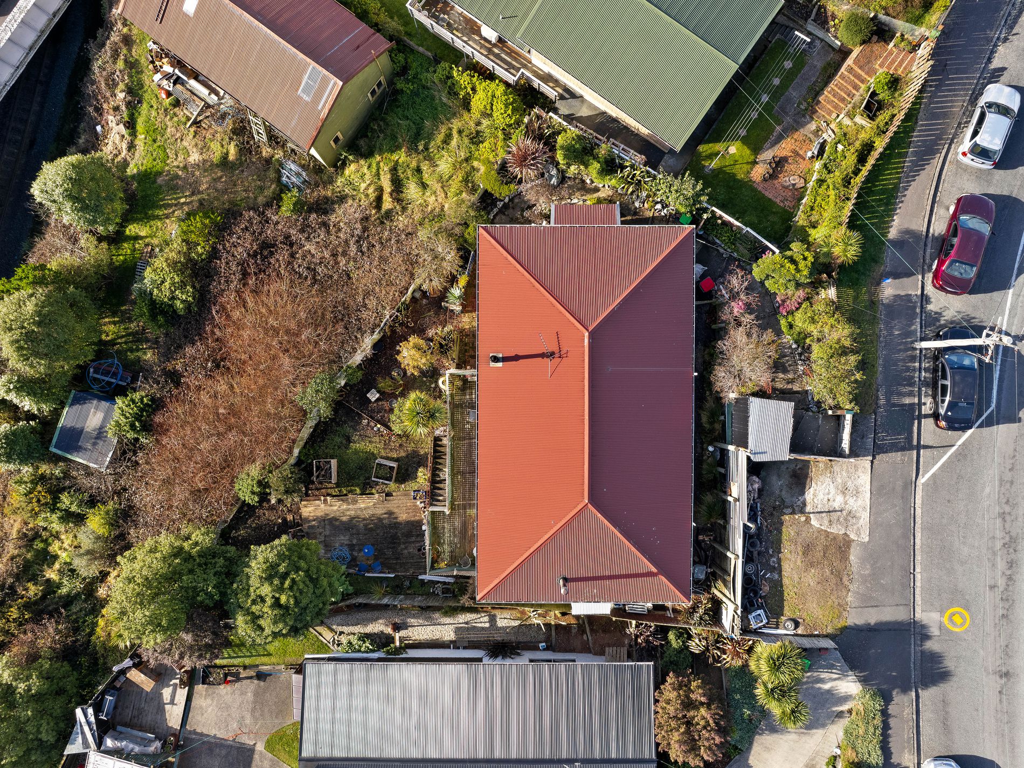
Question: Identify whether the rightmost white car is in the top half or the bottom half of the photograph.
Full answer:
Seen from above, the rightmost white car lies in the top half of the view.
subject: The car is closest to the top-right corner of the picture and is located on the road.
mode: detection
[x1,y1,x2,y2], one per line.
[957,80,1022,172]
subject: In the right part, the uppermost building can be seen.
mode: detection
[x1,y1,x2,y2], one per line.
[450,0,787,159]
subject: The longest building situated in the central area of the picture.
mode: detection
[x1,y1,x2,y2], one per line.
[474,202,697,615]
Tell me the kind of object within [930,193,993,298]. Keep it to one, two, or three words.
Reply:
car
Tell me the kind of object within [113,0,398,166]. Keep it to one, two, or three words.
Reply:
shed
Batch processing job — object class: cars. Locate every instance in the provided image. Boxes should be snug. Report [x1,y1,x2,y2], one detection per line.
[924,759,961,768]
[930,193,993,298]
[957,80,1022,172]
[931,331,982,430]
